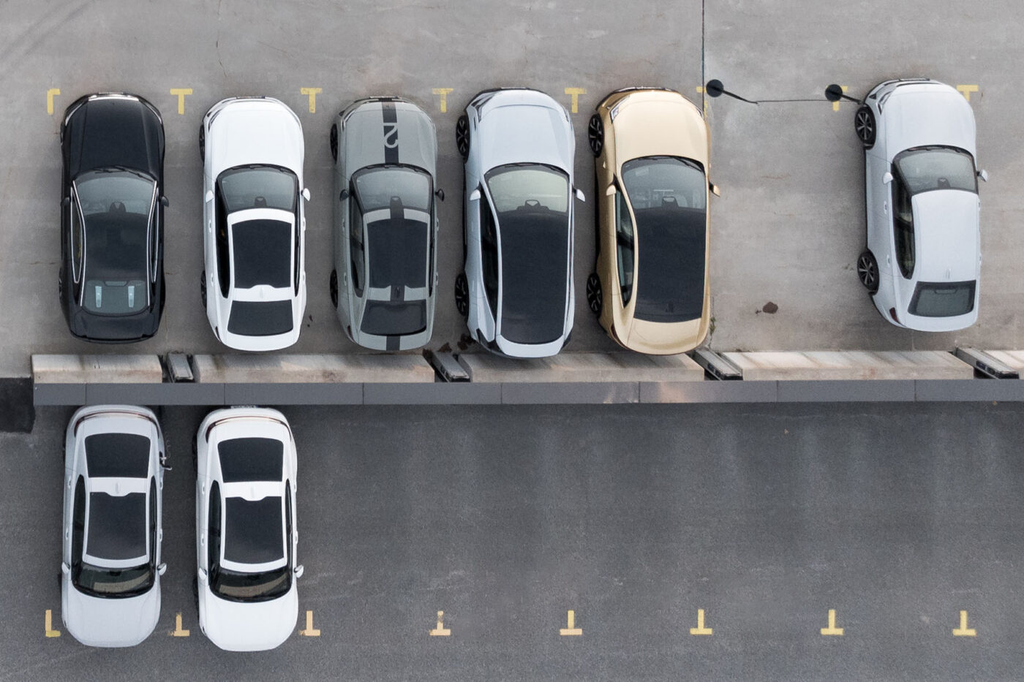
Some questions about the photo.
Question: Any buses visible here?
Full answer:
No, the photo shows no bus.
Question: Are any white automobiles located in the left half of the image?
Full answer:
Yes, a white automobile appears in the left half of the image.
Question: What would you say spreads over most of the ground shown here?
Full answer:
What you mostly see from above here is paved ground.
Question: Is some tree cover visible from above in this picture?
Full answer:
No, there is no tree cover in the image.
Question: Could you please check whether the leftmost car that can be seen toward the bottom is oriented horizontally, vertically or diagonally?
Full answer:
From this overhead view, the leftmost car that can be seen toward the bottom appears to run vertically.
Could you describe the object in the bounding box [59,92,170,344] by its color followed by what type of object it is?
black car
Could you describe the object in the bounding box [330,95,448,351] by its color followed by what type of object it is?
gray car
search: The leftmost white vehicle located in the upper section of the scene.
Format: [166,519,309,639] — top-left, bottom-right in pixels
[198,95,313,351]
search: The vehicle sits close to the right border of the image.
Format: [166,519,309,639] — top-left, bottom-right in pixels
[854,78,990,334]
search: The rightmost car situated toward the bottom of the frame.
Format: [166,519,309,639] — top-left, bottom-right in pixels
[191,404,305,652]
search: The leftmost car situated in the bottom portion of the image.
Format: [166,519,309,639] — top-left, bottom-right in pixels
[59,403,171,648]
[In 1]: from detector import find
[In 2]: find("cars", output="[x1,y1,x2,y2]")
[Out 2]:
[59,403,171,648]
[191,404,305,652]
[59,92,170,344]
[854,78,990,334]
[456,87,584,356]
[198,95,313,351]
[587,86,720,354]
[330,95,448,351]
